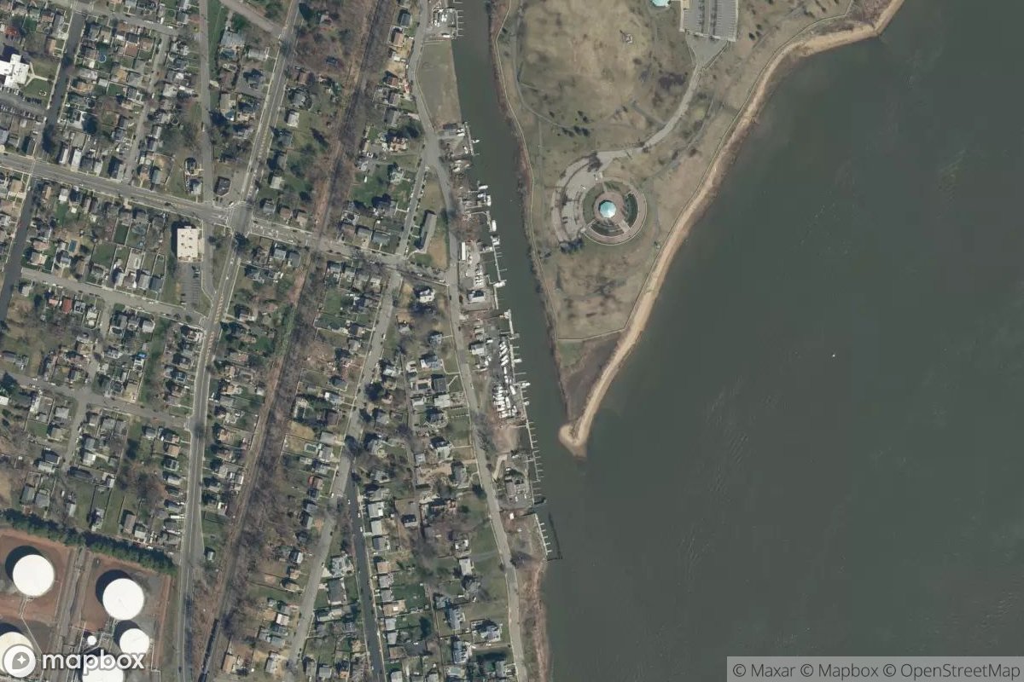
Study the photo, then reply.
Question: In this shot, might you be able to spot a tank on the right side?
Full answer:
No, there is no tank on the right side.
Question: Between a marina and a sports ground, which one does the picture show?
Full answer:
The area seen from above is a marina.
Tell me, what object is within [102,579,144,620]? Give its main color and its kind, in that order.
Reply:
white storage tank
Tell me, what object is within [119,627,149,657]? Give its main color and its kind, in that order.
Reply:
white storage tank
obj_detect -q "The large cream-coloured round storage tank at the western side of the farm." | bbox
[0,633,34,678]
